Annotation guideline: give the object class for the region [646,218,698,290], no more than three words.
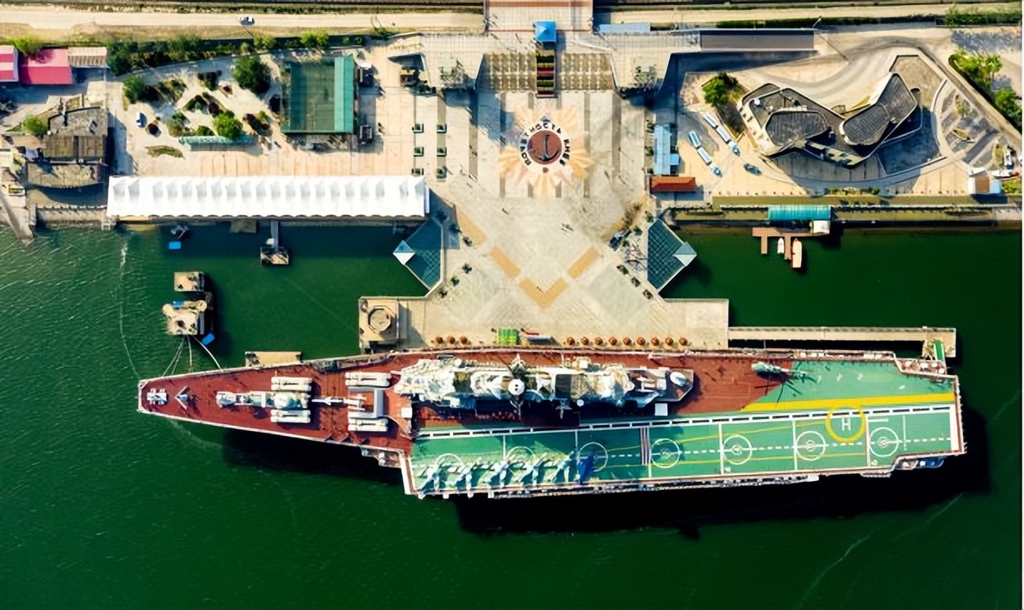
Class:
building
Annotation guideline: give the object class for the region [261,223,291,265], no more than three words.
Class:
pier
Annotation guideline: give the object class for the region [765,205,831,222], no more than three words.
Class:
house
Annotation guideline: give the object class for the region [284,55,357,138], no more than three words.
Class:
sports court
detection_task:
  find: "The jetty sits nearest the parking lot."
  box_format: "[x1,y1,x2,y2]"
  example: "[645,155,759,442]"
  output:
[751,227,827,259]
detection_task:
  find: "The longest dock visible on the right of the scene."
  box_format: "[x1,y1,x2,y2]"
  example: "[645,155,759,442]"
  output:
[729,326,956,358]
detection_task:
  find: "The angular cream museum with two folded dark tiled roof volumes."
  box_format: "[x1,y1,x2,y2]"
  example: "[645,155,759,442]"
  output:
[735,72,923,167]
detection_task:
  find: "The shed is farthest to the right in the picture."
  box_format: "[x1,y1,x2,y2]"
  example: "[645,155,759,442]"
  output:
[961,167,1001,196]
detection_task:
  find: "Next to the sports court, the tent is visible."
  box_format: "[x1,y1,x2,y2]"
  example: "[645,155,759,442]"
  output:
[107,176,429,219]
